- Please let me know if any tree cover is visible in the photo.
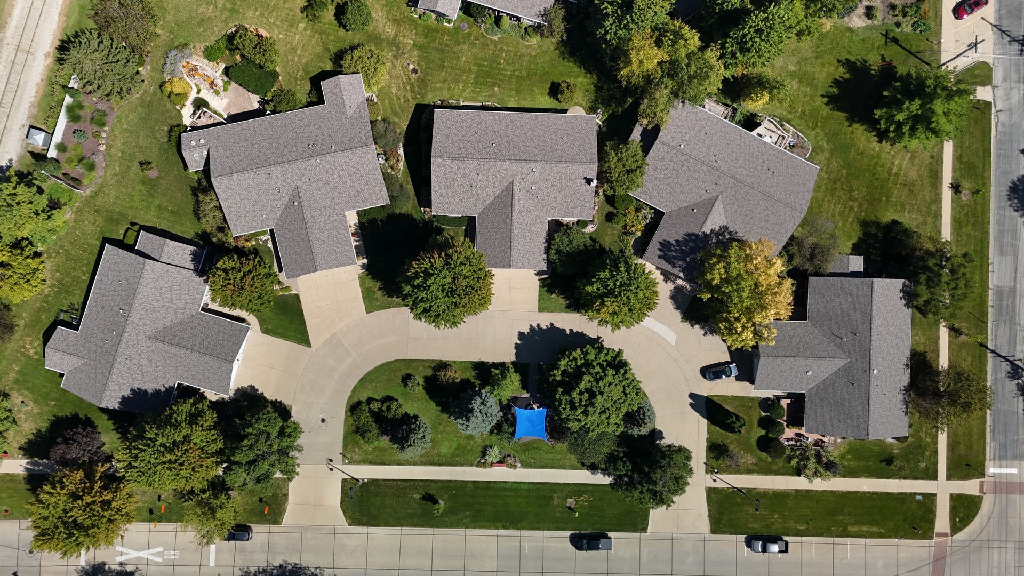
Yes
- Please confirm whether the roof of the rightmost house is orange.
No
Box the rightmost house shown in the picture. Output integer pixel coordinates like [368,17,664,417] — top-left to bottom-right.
[750,255,913,439]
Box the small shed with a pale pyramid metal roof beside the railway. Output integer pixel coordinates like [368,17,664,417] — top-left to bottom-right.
[22,127,49,149]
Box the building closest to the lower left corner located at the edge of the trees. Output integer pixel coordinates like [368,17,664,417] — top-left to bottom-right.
[44,230,254,415]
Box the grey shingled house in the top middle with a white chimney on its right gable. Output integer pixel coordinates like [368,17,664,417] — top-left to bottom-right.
[431,109,597,270]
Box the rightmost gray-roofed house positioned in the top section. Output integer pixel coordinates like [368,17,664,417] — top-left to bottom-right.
[627,103,819,290]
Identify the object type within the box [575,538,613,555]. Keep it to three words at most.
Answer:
vehicle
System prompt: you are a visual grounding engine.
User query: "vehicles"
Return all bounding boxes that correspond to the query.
[705,363,738,381]
[957,0,992,17]
[575,538,613,555]
[218,526,251,543]
[753,540,792,557]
